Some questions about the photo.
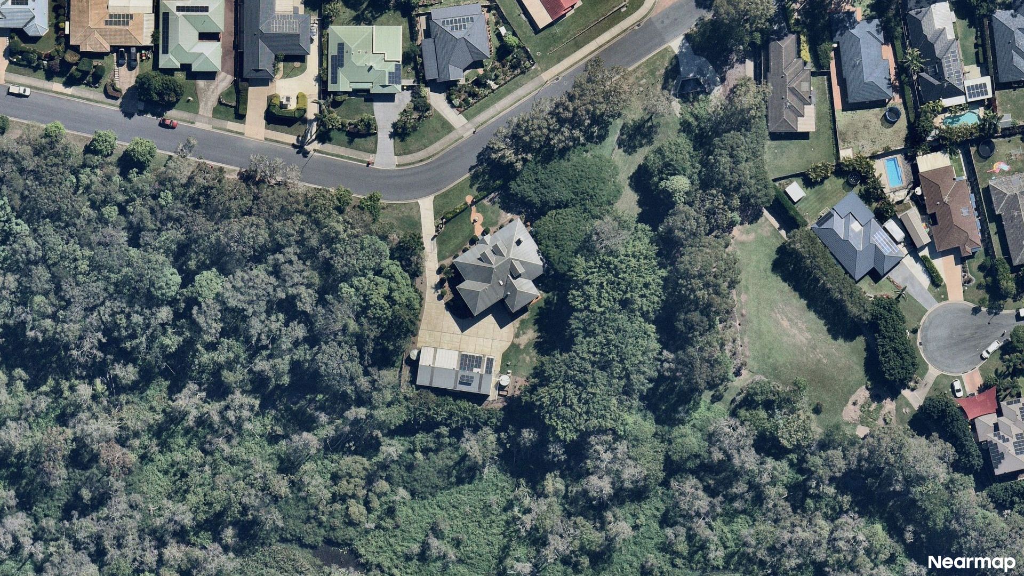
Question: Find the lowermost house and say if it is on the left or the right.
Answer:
right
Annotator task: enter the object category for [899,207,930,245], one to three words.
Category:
shed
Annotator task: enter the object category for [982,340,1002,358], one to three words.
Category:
car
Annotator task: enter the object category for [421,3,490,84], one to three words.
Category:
house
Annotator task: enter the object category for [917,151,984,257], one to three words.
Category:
house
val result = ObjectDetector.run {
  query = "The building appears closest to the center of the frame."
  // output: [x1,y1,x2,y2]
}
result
[453,219,542,316]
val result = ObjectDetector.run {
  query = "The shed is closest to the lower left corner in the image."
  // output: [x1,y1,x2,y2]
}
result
[417,345,496,396]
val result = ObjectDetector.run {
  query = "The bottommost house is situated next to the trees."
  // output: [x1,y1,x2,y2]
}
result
[974,397,1024,475]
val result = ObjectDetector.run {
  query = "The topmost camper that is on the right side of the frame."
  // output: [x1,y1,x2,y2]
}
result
[884,220,904,243]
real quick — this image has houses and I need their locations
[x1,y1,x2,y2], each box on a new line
[989,172,1024,263]
[520,0,582,29]
[421,3,490,84]
[453,219,542,316]
[917,151,984,257]
[243,0,310,78]
[811,191,906,280]
[159,0,224,71]
[992,12,1024,96]
[328,25,402,93]
[836,18,896,102]
[906,1,994,107]
[0,0,48,36]
[974,397,1024,475]
[769,38,816,132]
[69,0,154,51]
